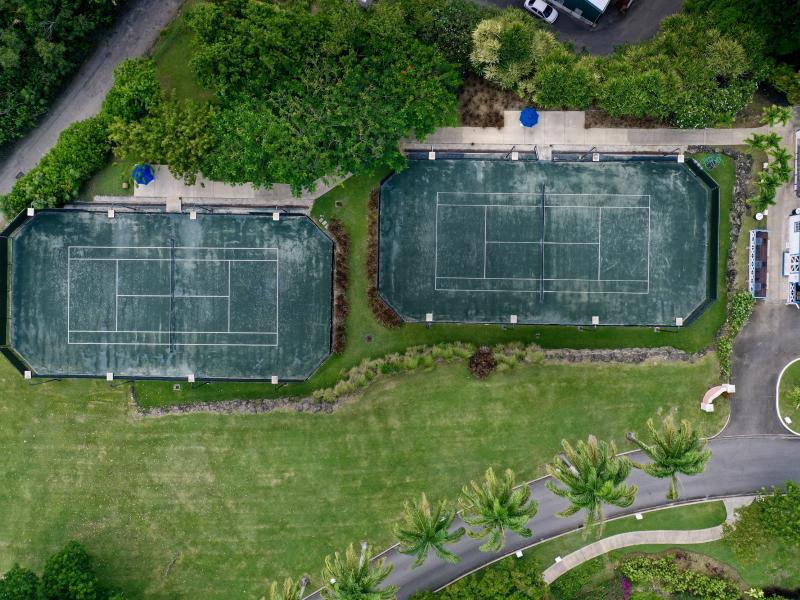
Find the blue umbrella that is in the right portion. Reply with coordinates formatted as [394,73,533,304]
[517,109,537,128]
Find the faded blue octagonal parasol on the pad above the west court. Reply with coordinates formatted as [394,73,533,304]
[134,165,155,186]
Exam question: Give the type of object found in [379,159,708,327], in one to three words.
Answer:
tennis court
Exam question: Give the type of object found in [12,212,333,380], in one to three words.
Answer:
tennis court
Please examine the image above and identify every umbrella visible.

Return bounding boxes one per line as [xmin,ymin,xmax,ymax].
[134,165,155,186]
[517,109,537,128]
